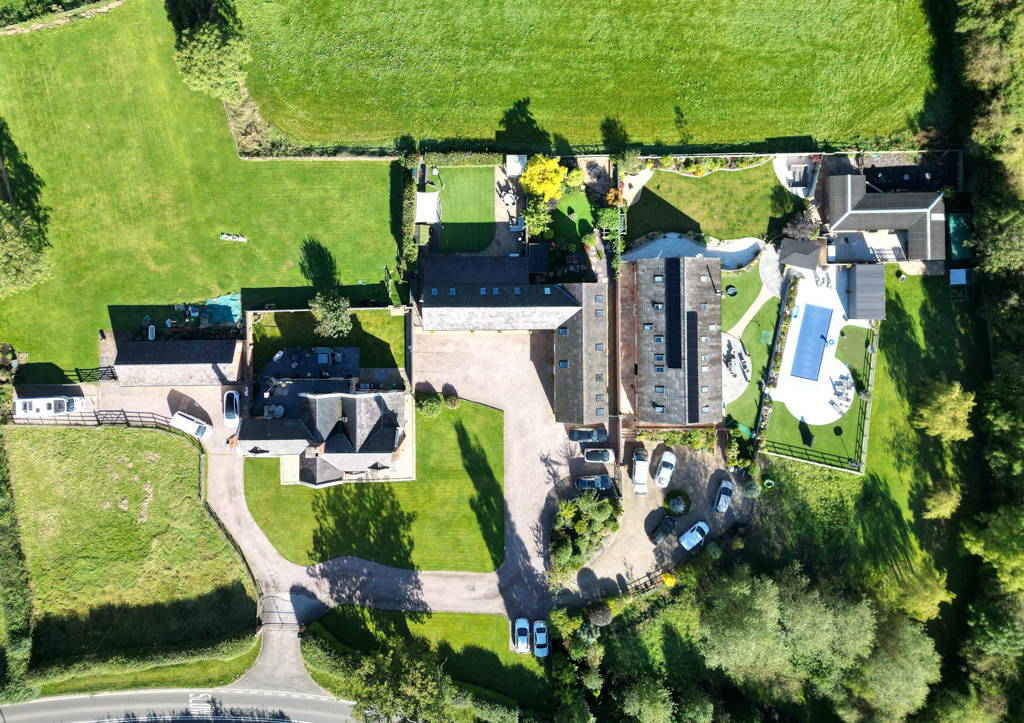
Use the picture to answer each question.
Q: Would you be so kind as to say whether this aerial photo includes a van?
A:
Yes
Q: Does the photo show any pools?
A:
Yes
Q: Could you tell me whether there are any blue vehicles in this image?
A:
Yes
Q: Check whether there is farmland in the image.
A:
Yes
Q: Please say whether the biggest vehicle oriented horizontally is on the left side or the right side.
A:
left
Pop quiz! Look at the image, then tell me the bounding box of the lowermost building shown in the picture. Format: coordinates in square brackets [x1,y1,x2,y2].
[225,394,410,486]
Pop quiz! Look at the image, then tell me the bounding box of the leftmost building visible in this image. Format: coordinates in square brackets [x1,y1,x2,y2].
[103,339,248,385]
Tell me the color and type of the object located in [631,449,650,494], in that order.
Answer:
white vehicle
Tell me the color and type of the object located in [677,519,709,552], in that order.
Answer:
blue car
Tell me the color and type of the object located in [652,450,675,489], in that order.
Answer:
white car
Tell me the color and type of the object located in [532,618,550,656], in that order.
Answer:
blue car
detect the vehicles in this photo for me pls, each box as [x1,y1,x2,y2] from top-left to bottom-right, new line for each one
[677,519,709,552]
[568,425,607,444]
[631,449,650,494]
[532,618,550,656]
[647,514,677,546]
[652,450,675,489]
[583,446,616,464]
[712,479,734,513]
[171,409,216,439]
[512,616,530,653]
[223,391,242,426]
[14,397,88,418]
